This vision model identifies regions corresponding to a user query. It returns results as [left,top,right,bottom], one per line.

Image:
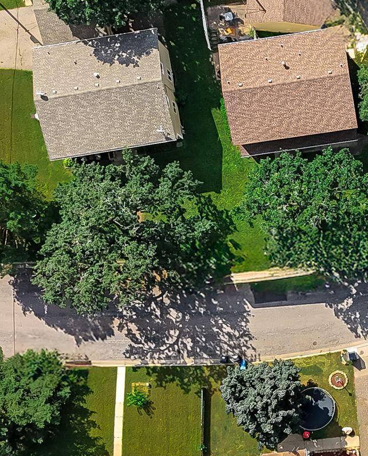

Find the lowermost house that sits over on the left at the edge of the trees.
[32,26,187,169]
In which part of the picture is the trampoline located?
bottom right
